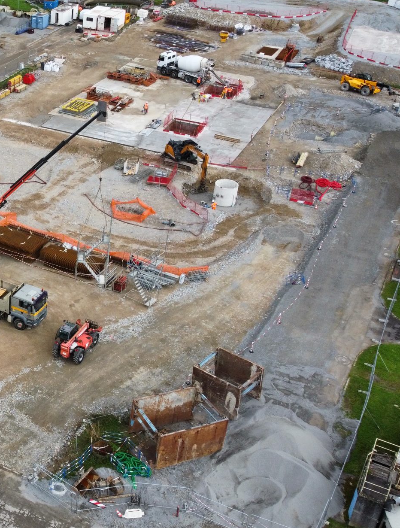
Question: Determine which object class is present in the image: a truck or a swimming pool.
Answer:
truck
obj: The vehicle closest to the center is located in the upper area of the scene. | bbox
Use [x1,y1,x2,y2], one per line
[160,141,214,180]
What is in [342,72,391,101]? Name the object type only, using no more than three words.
work vehicle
